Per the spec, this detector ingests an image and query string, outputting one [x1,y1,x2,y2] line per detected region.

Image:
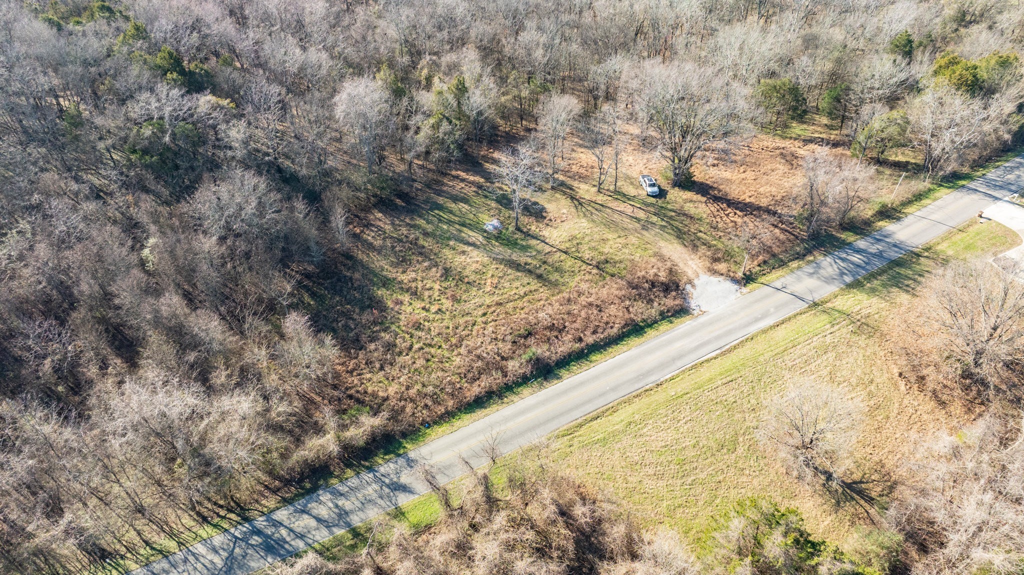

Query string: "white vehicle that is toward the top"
[638,174,660,197]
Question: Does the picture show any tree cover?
Yes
